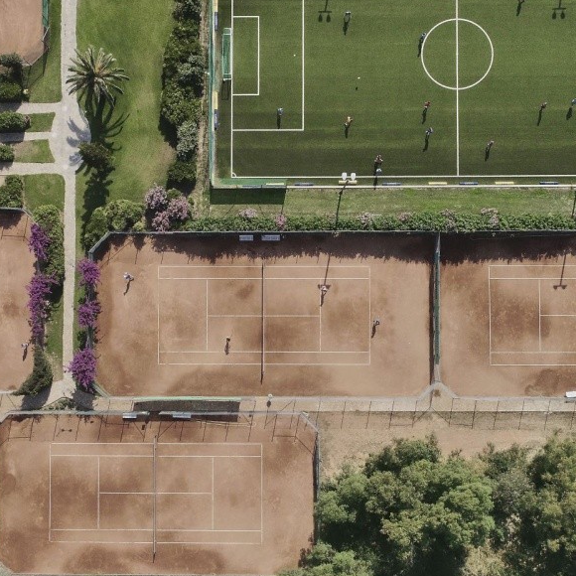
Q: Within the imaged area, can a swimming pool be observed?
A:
No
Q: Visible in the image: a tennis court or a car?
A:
tennis court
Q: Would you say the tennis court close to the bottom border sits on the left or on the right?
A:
left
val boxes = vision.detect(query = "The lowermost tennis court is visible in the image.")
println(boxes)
[0,413,315,575]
